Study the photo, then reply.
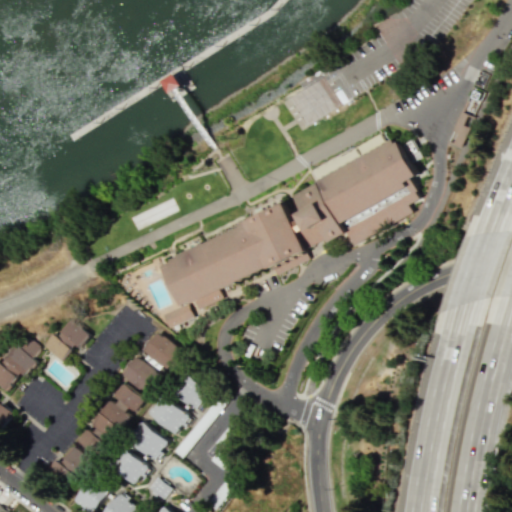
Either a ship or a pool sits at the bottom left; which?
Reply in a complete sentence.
The feature located at the bottom left is a pool.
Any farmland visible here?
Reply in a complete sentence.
No, there is no farmland in the image.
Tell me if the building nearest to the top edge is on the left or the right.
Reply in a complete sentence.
It is on the left.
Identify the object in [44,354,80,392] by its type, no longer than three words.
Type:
swimming pool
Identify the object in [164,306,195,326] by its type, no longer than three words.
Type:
building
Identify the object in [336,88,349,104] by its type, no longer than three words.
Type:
vehicle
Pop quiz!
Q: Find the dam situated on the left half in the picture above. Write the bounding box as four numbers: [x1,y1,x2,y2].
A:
[71,0,291,139]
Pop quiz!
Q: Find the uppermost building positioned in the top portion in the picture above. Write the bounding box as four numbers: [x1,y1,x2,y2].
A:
[161,75,189,102]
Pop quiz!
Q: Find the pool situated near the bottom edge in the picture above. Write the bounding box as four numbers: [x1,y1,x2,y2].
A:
[162,458,206,497]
